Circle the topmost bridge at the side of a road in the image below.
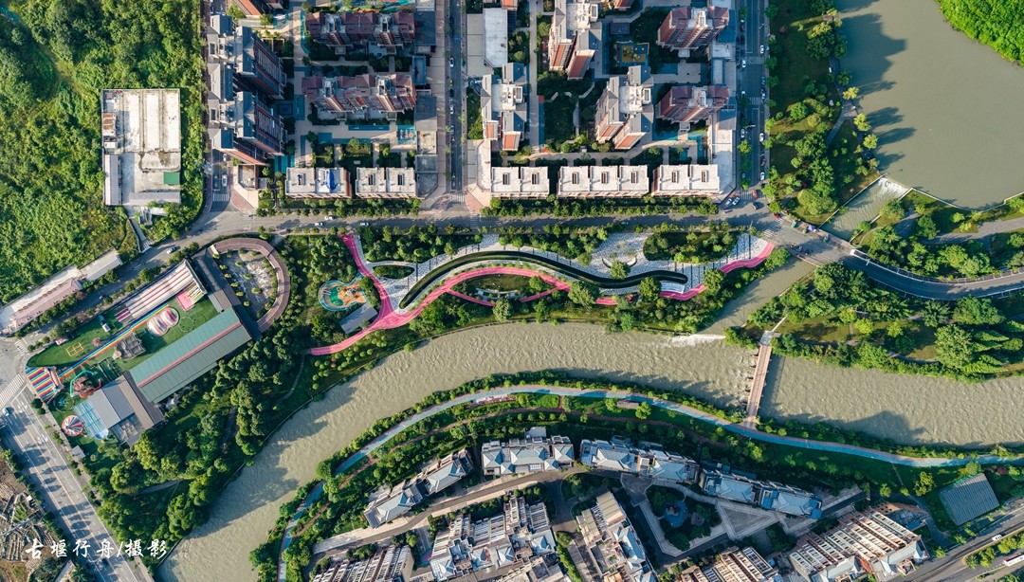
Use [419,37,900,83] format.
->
[773,211,855,267]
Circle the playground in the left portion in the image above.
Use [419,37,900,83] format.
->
[319,272,366,311]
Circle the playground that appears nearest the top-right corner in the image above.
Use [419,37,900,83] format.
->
[616,41,650,66]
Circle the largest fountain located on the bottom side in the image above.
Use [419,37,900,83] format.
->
[53,392,72,412]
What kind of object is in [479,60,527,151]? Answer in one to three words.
building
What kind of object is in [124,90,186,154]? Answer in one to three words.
building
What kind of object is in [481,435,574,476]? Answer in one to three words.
house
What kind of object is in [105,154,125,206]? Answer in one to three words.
shed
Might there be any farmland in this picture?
No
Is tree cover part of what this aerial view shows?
Yes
